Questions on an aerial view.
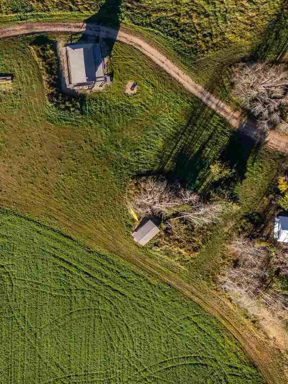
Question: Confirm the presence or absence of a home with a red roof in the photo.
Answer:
No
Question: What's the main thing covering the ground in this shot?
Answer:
grass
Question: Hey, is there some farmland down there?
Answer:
Yes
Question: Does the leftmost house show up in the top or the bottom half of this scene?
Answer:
top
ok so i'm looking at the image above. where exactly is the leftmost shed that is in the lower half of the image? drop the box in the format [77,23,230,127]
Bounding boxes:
[130,219,159,246]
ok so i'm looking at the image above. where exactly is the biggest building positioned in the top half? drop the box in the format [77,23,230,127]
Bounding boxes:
[58,41,105,92]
